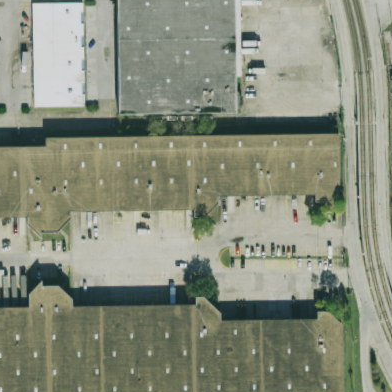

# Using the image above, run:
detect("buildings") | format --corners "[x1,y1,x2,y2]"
[0,134,340,238]
[32,2,86,109]
[0,281,344,392]
[118,0,242,116]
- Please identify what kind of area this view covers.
industrial area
